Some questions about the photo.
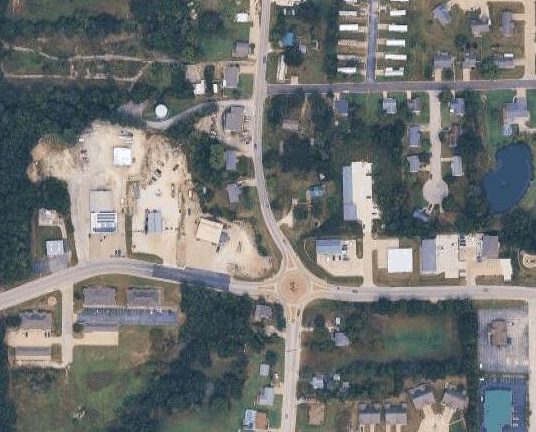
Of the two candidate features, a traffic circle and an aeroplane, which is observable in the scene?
traffic circle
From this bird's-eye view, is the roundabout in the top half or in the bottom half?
bottom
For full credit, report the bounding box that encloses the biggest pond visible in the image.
[482,144,533,213]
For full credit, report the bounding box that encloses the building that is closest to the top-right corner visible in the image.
[500,11,515,35]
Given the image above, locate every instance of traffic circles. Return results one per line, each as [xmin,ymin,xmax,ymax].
[254,246,343,332]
